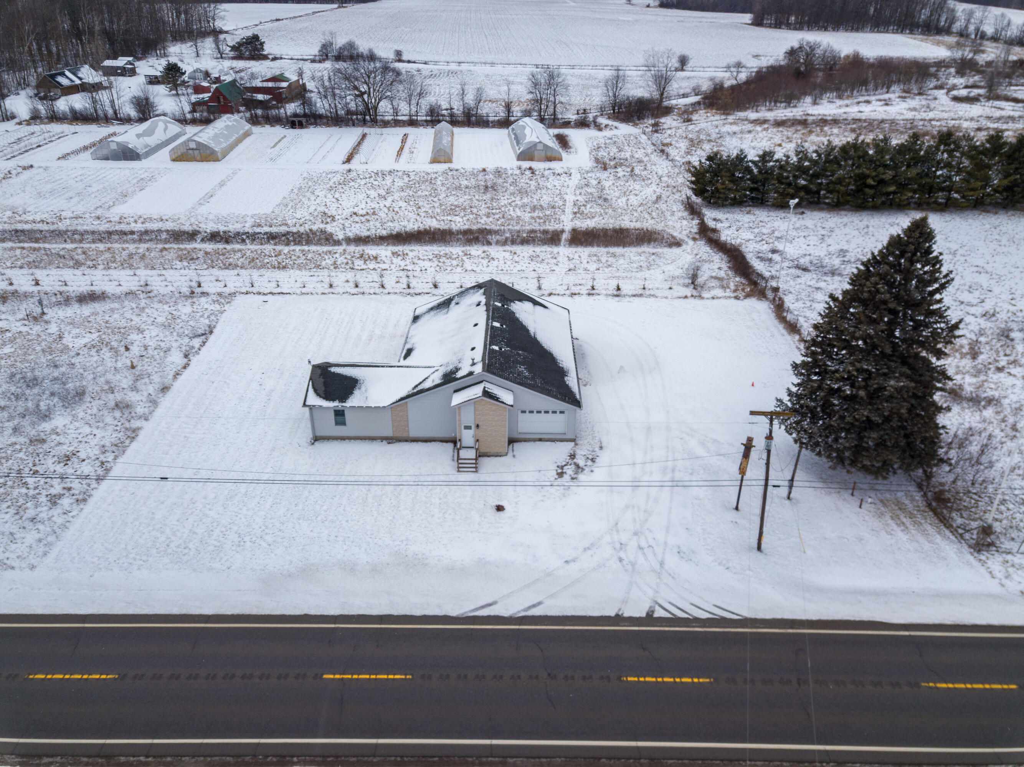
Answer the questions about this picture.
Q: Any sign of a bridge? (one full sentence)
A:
No, no bridge is visible in the scene.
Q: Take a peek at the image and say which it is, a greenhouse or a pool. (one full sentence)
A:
The image shows a greenhouse.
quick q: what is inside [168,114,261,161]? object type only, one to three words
greenhouse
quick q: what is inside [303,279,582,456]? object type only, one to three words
house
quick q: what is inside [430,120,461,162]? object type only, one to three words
greenhouse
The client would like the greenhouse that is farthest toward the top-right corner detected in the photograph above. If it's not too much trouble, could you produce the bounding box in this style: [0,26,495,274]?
[511,113,563,161]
